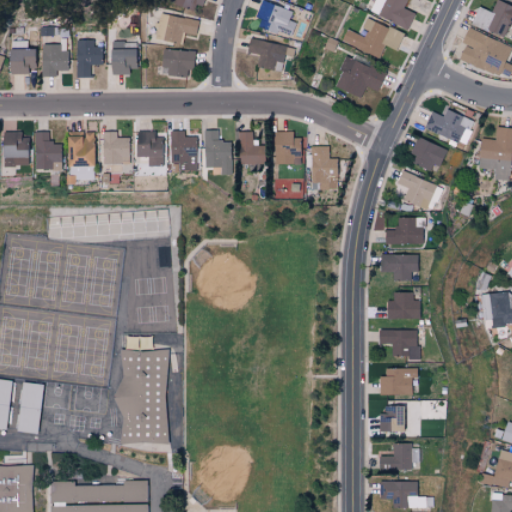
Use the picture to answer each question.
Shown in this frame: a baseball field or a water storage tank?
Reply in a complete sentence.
There is a baseball field in the scene.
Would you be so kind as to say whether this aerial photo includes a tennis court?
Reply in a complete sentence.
Yes, there is a tennis court in the image.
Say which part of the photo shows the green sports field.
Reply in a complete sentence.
The green sports field is located in the bottom region of the scene.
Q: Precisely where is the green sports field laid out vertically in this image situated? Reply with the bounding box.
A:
[189,240,313,512]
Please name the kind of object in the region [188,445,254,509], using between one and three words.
baseball field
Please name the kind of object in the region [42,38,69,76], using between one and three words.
house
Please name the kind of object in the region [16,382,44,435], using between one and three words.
building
